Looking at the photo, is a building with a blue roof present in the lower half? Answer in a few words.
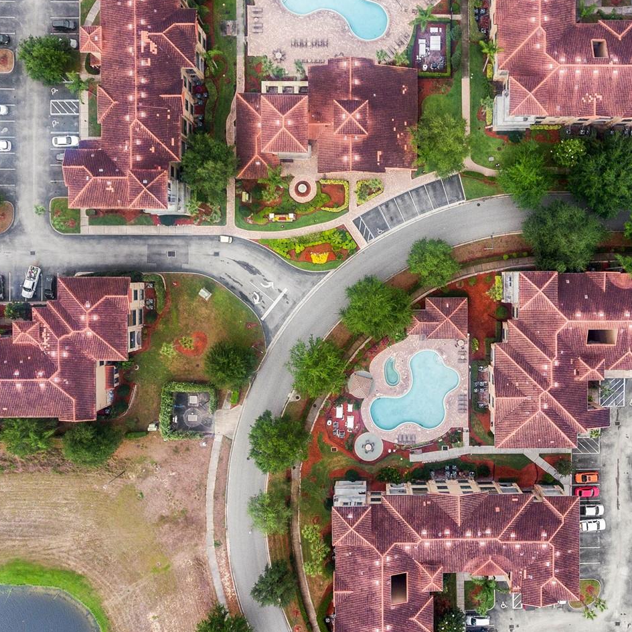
No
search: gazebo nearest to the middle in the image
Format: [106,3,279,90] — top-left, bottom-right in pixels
[347,370,374,397]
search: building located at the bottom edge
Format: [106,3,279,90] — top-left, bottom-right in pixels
[332,476,580,632]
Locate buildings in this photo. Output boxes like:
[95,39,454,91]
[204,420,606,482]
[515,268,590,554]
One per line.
[492,0,632,130]
[235,52,417,179]
[407,297,468,339]
[491,271,632,448]
[332,476,580,632]
[0,275,150,423]
[60,0,207,215]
